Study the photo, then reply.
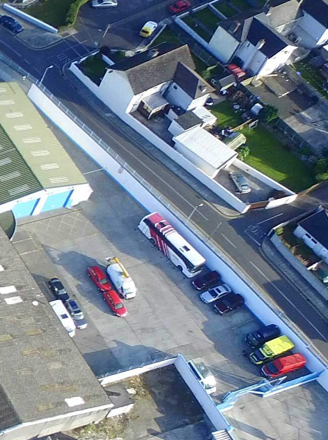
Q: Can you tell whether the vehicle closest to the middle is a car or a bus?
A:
bus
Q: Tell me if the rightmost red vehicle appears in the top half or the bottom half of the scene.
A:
bottom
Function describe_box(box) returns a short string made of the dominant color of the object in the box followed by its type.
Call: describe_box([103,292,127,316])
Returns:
red car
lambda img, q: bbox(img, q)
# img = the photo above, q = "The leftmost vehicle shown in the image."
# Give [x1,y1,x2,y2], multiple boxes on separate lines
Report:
[0,19,22,34]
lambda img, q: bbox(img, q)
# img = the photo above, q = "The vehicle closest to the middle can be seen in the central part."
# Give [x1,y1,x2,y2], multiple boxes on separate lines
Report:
[133,214,205,279]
